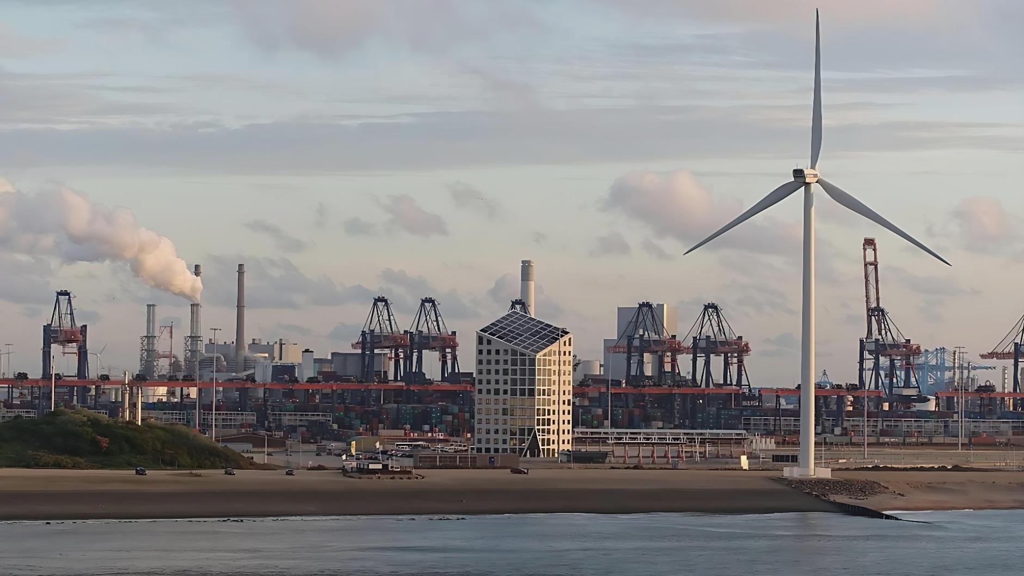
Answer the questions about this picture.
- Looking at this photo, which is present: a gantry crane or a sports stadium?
gantry crane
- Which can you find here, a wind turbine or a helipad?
wind turbine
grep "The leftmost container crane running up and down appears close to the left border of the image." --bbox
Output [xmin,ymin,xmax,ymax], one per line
[43,286,86,401]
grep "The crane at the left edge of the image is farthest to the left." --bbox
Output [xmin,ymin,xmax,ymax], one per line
[0,371,40,398]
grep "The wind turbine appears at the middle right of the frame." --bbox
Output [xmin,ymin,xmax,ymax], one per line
[680,9,957,475]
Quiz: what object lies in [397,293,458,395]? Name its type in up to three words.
container crane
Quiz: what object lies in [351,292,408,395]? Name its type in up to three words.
container crane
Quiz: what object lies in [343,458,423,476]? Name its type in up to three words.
building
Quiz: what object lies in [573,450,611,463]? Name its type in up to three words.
building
